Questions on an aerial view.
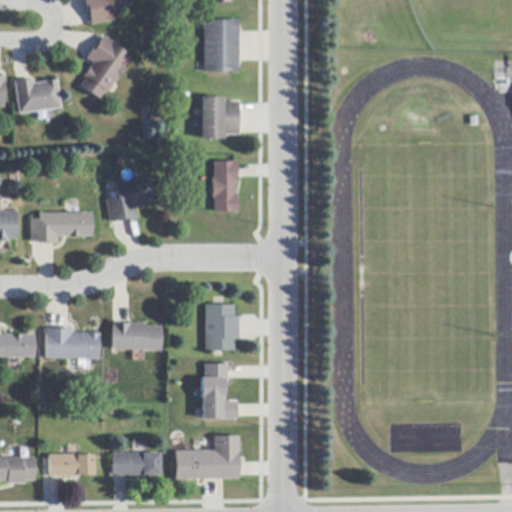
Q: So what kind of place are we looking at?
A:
sports ground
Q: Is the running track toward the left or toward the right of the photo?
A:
right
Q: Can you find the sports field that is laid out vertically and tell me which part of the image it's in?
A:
right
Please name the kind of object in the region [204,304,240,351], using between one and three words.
house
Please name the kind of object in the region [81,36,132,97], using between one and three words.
house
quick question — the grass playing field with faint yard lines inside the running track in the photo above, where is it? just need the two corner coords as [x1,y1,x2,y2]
[352,76,496,464]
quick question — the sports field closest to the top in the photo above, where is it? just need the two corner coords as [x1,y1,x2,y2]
[412,0,512,50]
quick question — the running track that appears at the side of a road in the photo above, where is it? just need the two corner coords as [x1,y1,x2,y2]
[334,58,512,484]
